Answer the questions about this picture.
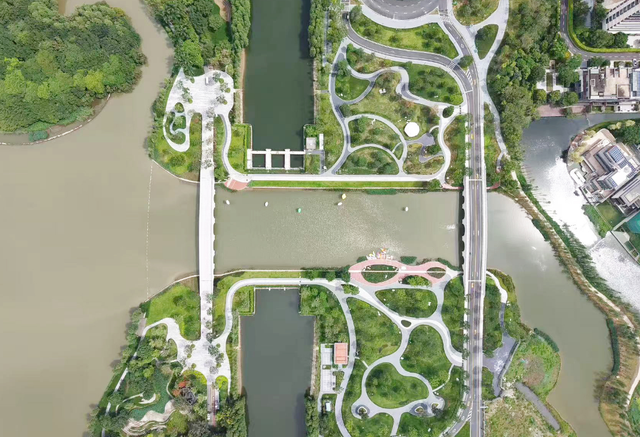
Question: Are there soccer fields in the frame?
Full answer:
No, no soccer field can be seen from above.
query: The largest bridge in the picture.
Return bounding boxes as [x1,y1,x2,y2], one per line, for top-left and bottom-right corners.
[462,179,489,281]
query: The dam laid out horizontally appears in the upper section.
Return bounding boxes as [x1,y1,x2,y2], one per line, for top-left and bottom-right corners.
[248,148,304,169]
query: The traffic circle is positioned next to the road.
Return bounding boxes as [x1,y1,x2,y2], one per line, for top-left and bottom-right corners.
[352,0,449,29]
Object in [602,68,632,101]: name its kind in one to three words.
house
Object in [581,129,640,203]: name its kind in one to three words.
house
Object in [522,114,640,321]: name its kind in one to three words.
pond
